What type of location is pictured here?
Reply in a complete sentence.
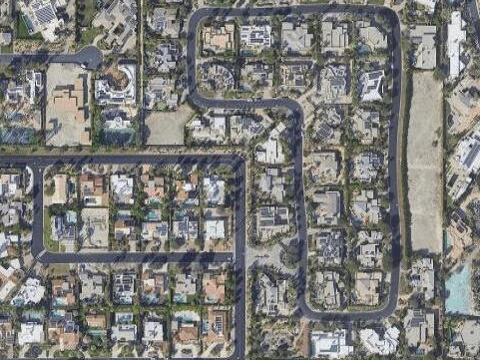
The picture captures a residential area.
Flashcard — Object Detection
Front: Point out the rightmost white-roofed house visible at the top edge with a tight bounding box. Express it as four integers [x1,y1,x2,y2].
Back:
[445,10,466,78]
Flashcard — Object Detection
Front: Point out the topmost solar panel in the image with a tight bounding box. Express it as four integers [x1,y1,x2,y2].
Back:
[32,3,56,23]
